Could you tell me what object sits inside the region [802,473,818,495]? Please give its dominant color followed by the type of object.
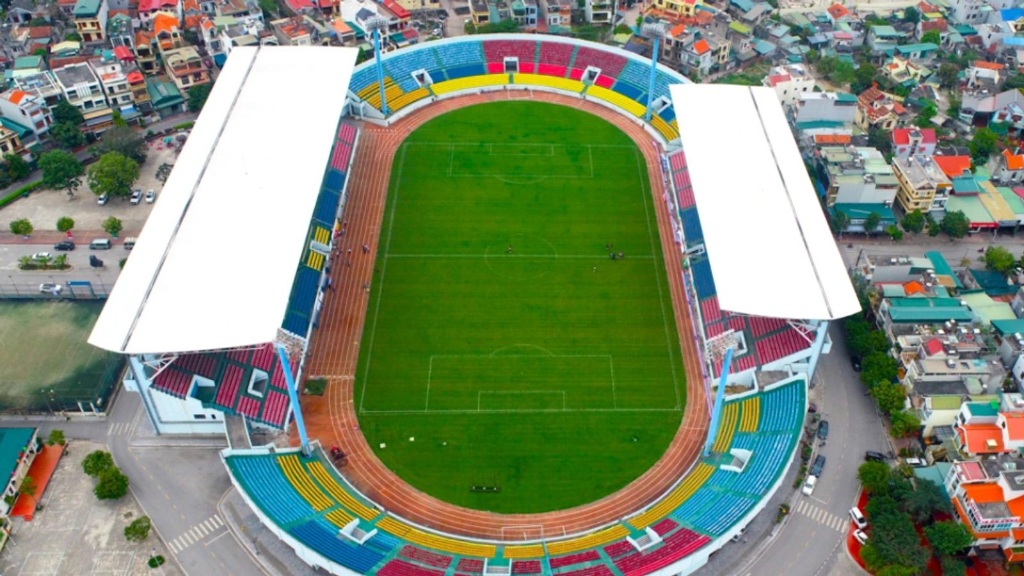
white car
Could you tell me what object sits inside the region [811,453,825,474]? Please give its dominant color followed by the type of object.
blue car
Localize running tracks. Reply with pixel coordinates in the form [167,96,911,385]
[283,89,718,542]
